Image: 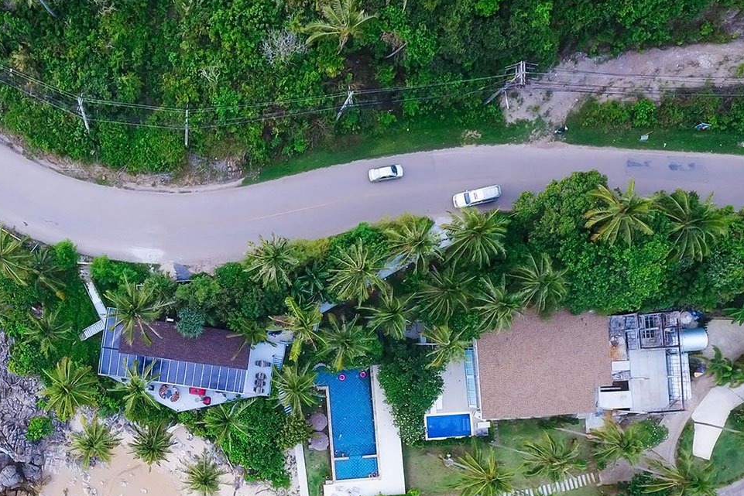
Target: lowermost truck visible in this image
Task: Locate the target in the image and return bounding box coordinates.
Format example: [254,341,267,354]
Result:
[452,184,503,208]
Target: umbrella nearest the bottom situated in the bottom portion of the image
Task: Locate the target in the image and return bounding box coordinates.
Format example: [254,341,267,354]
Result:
[310,431,331,451]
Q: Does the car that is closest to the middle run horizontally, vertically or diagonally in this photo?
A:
horizontally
